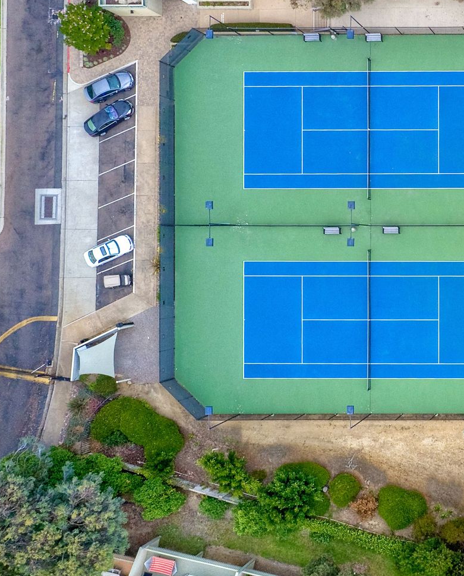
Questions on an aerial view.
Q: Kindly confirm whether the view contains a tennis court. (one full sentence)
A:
Yes, the image includes a tennis court.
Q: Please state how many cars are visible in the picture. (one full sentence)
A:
The photo contains 3 cars.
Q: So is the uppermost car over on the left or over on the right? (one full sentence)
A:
The uppermost car appears in the left half of the scene.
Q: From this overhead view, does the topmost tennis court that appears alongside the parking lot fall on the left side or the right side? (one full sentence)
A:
The topmost tennis court that appears alongside the parking lot appears in the right half of the scene.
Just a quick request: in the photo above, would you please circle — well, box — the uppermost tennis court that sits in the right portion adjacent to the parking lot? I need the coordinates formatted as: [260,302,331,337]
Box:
[243,71,464,188]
